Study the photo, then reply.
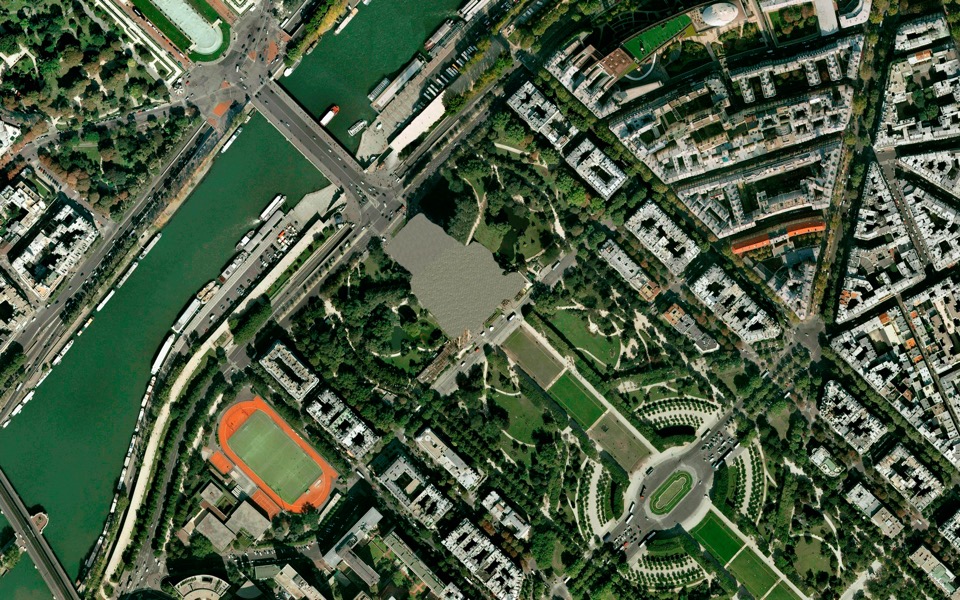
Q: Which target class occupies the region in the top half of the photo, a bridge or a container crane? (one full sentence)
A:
The one visible in the top half of the photo is a bridge.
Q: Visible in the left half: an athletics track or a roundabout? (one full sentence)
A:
There is an athletics track in the left half.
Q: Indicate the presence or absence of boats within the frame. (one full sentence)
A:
Yes, a boat is visible in the scene.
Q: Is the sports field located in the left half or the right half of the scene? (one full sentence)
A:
You can find the sports field on the left side of the picture.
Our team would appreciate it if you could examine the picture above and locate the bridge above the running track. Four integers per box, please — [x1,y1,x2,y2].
[252,82,364,184]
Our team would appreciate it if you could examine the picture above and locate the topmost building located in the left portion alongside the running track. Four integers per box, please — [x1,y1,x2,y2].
[259,340,320,401]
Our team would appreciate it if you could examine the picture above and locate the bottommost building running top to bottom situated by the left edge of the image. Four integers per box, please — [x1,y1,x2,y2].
[0,278,33,349]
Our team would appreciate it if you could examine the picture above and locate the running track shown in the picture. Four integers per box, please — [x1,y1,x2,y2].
[219,396,338,513]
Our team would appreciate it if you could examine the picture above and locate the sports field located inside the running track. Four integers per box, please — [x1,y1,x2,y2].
[228,409,323,503]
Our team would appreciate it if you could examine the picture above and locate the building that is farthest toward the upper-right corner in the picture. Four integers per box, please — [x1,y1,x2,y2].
[893,12,951,52]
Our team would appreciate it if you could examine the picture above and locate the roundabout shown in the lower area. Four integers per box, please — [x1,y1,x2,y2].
[589,398,753,567]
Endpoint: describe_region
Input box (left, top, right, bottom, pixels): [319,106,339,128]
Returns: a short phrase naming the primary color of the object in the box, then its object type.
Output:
white boat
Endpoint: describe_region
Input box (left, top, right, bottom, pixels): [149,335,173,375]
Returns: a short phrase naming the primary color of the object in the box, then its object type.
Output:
white vessel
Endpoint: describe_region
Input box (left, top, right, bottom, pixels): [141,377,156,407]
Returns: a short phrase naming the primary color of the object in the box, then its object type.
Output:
white boat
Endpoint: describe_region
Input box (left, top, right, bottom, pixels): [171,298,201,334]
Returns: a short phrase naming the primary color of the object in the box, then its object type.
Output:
white vessel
